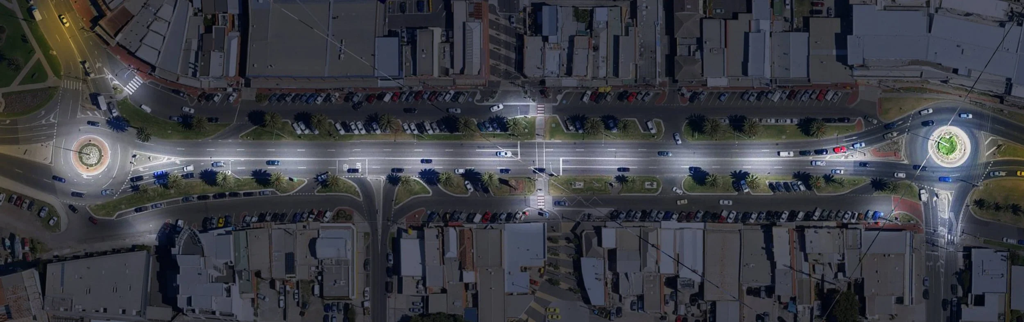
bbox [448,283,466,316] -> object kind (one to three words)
building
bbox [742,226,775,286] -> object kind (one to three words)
building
